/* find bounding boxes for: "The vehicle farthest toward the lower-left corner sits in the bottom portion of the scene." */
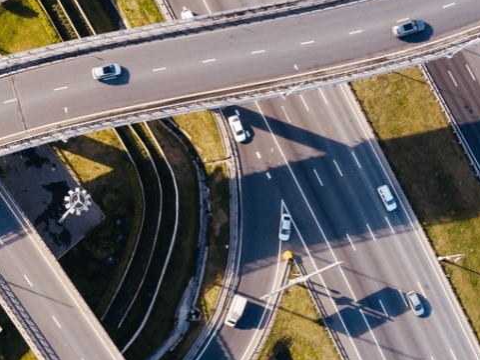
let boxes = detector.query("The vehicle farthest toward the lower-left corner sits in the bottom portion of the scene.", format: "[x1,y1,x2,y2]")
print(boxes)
[225,294,252,329]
